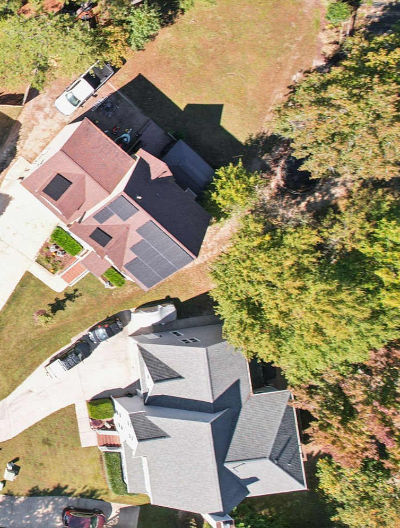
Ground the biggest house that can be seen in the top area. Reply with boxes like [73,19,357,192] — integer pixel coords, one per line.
[13,116,211,292]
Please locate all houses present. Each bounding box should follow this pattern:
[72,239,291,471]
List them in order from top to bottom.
[13,116,211,292]
[97,329,307,528]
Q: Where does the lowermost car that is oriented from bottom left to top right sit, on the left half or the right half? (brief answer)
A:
left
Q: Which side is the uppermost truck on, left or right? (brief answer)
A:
left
